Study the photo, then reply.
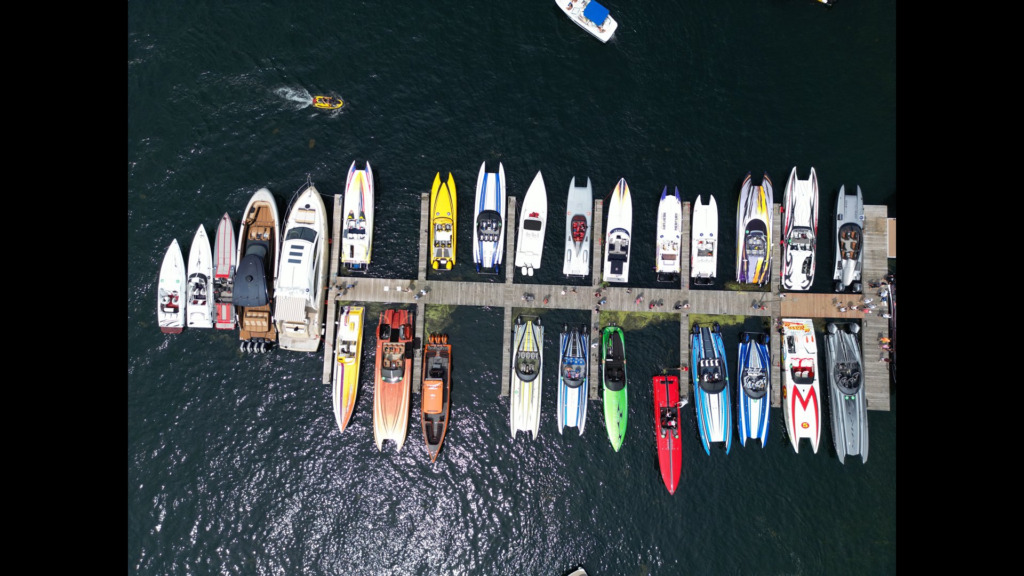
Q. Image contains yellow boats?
Yes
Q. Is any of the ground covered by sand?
No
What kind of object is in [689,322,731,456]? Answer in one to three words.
boat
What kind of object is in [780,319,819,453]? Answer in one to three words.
boat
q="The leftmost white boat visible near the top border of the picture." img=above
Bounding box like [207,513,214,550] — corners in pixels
[553,0,618,46]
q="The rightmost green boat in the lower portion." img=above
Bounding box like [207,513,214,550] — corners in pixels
[601,323,627,452]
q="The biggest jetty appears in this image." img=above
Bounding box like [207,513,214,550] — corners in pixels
[324,193,890,410]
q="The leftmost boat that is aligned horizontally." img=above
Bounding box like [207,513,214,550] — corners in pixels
[313,97,343,109]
